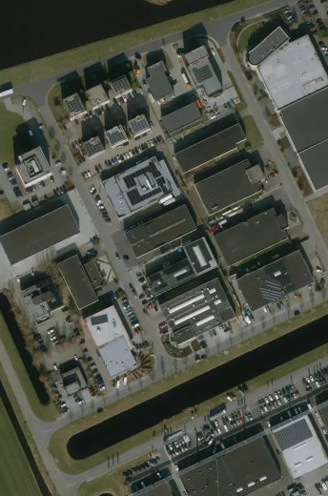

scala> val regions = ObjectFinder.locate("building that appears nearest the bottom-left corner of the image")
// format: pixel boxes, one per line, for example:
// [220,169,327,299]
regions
[62,367,87,396]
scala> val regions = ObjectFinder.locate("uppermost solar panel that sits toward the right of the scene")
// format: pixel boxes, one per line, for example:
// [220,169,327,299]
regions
[193,63,212,82]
